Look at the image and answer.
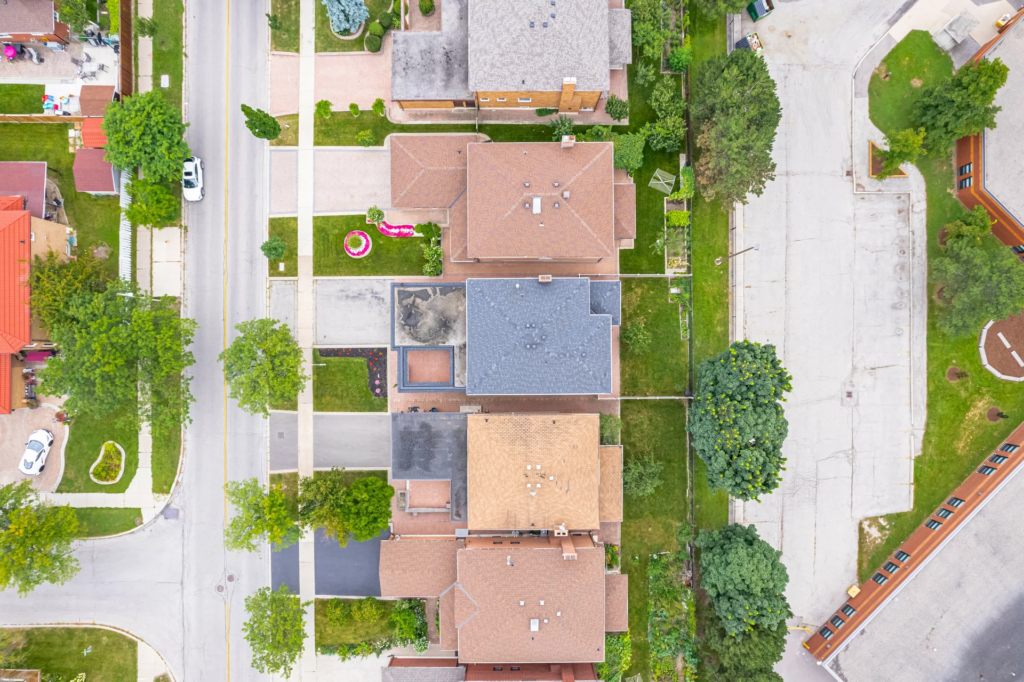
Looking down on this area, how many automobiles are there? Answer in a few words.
2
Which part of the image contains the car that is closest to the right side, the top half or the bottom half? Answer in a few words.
top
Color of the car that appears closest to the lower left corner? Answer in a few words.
white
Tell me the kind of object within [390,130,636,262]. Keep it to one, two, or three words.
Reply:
house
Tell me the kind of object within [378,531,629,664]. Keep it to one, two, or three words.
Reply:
house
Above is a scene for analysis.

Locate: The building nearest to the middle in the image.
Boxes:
[390,271,622,396]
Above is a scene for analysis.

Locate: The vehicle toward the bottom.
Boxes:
[14,427,55,479]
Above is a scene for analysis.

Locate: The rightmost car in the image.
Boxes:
[178,153,205,203]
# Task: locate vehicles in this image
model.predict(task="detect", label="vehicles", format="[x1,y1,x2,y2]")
[14,427,55,479]
[178,153,205,203]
